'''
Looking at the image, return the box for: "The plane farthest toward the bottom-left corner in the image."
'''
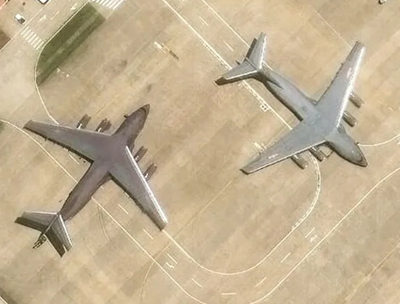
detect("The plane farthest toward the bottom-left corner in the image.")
[24,105,168,255]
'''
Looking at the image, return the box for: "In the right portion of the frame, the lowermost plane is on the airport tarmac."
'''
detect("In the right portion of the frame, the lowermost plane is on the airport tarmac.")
[223,31,367,173]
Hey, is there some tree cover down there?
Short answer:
No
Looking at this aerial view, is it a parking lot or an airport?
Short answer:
airport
